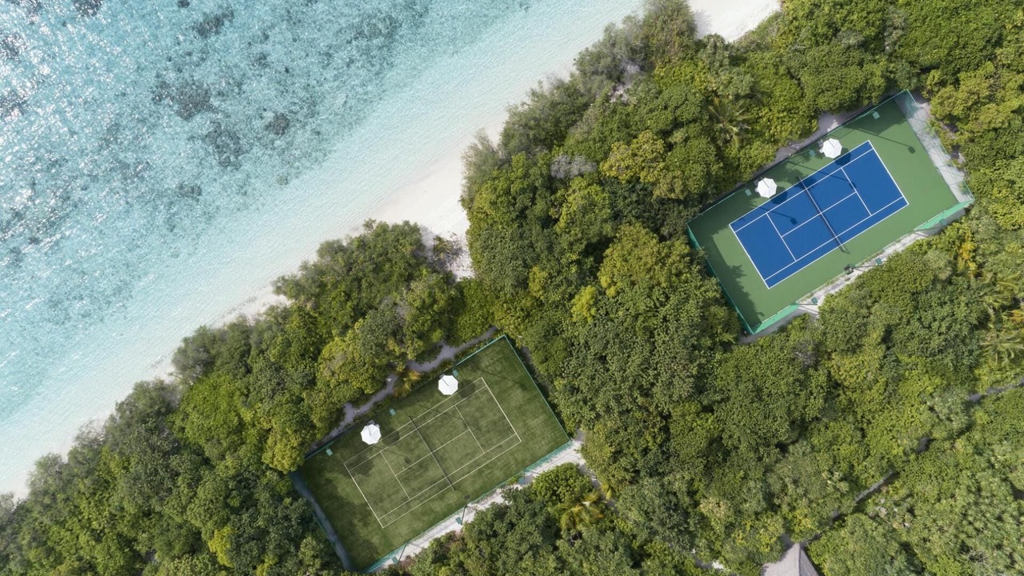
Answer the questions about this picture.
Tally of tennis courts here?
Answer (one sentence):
Looking from above, you can make out 2 tennis courts.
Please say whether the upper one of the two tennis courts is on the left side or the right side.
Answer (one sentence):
The upper one of the two tennis courts appears in the right half of the scene.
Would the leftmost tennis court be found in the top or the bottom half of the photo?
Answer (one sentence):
The bottom half of the photo is where the leftmost tennis court is.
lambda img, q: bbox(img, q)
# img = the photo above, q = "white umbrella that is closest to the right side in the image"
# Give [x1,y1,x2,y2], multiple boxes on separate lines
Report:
[812,137,842,159]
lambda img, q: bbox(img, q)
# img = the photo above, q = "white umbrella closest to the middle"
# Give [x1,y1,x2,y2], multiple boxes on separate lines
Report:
[438,371,459,395]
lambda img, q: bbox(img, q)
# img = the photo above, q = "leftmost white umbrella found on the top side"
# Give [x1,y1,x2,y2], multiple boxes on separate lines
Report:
[749,176,777,199]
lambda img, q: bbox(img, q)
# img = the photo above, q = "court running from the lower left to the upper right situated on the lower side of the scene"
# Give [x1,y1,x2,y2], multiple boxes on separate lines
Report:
[294,334,570,570]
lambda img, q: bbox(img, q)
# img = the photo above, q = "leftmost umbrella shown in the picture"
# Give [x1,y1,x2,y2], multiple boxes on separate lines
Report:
[360,414,382,445]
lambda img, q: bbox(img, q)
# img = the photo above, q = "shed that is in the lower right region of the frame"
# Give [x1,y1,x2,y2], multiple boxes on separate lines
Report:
[740,540,817,576]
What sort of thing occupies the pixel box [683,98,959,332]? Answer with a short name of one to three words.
tennis court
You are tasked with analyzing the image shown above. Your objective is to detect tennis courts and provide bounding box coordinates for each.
[294,334,570,570]
[683,98,959,332]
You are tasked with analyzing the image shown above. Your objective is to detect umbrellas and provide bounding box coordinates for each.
[749,176,777,199]
[812,137,842,159]
[360,414,382,445]
[438,371,459,395]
